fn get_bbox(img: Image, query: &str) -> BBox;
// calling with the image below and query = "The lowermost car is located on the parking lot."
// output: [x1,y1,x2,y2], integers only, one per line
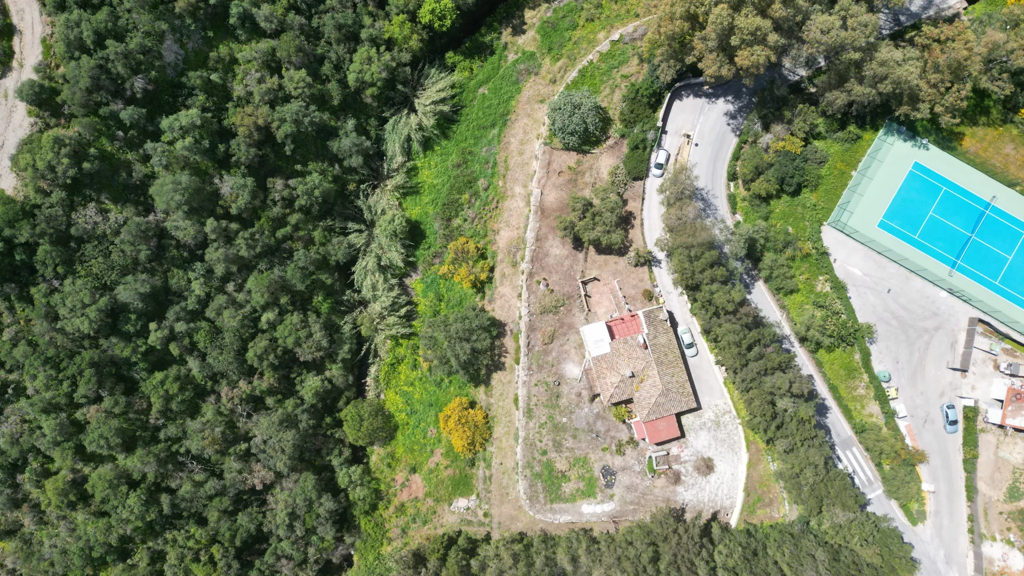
[938,402,959,434]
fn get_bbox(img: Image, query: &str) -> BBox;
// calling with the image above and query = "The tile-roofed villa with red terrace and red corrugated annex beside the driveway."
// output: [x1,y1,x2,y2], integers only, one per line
[577,304,698,450]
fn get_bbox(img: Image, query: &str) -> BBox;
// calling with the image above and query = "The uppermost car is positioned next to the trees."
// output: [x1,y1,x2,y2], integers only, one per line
[651,148,669,177]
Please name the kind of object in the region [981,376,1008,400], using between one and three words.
shed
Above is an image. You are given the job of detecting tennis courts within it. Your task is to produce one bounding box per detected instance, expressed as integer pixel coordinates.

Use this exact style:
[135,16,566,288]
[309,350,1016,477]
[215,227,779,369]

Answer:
[828,122,1024,333]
